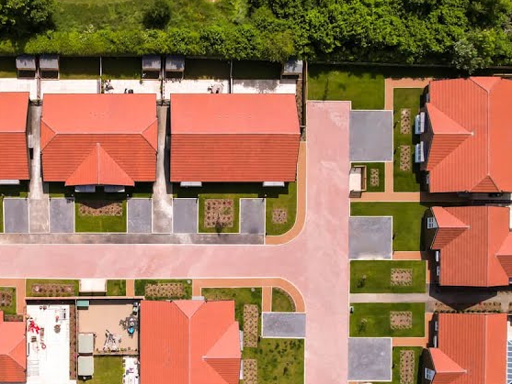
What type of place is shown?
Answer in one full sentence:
The area seen from above is a residential area.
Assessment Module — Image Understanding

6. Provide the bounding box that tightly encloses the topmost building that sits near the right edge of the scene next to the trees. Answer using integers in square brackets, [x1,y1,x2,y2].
[414,77,512,193]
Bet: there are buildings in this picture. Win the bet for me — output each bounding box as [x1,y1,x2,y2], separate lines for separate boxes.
[140,297,246,384]
[414,77,512,193]
[39,55,60,73]
[0,311,29,383]
[78,332,94,353]
[15,55,37,73]
[351,164,370,191]
[281,61,303,78]
[40,93,157,193]
[422,313,507,384]
[425,205,512,285]
[0,92,31,183]
[142,55,162,73]
[170,92,302,186]
[78,355,94,376]
[165,55,185,73]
